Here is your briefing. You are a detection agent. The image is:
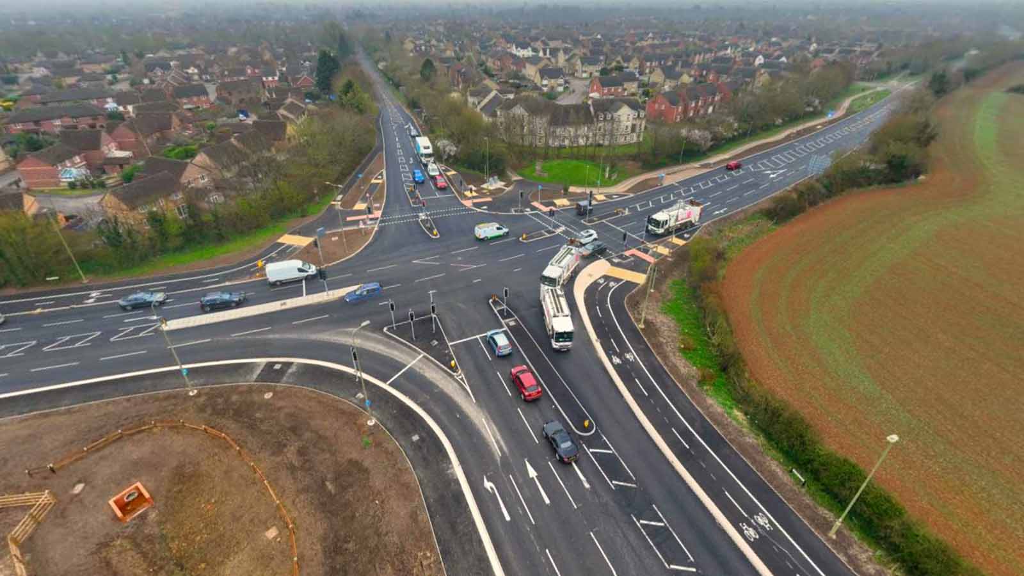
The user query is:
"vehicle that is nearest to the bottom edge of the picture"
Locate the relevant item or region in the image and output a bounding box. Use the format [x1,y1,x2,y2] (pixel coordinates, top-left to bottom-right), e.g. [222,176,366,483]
[542,422,582,468]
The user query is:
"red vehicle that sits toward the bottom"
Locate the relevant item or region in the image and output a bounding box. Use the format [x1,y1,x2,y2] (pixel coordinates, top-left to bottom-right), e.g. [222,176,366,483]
[511,368,543,403]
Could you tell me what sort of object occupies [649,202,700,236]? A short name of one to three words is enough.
truck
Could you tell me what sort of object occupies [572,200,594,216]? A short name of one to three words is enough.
vehicle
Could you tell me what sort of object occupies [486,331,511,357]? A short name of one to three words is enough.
car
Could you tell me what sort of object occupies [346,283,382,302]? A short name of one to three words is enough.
car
